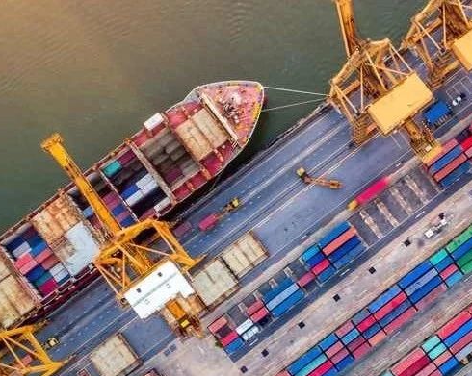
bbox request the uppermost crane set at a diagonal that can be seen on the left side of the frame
[36,126,219,343]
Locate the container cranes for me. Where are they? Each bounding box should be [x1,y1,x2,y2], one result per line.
[394,0,472,94]
[36,126,219,343]
[318,0,445,169]
[0,315,88,376]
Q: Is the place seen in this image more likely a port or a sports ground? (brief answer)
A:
port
